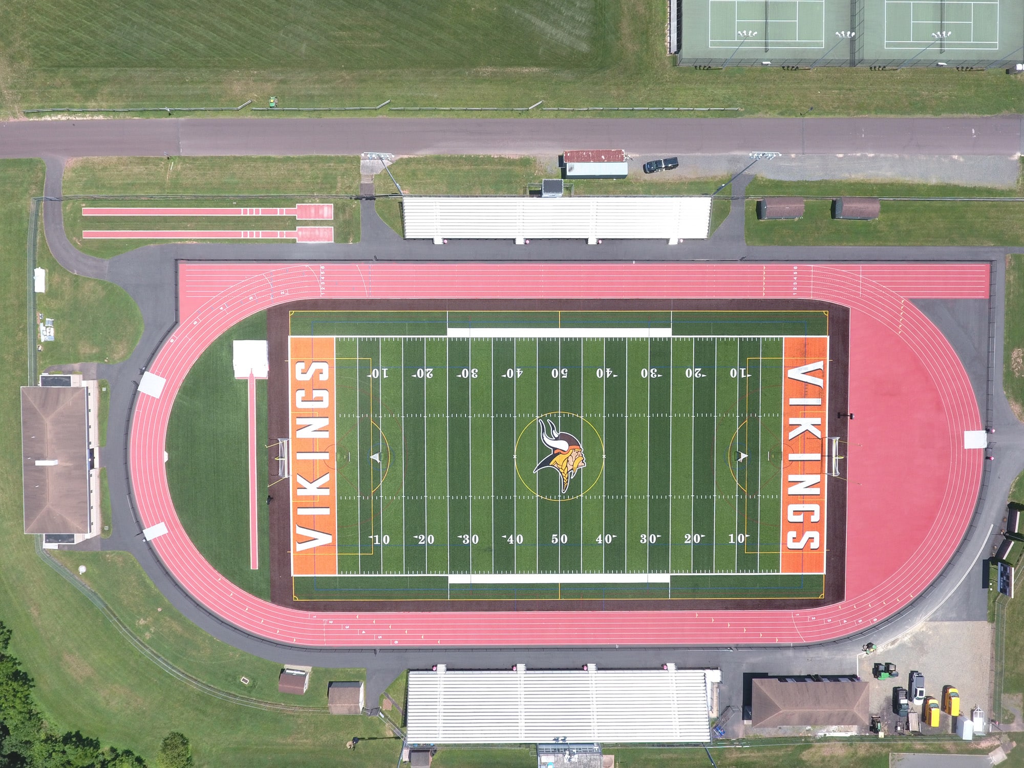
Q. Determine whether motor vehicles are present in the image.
Yes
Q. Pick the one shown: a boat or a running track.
running track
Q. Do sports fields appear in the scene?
Yes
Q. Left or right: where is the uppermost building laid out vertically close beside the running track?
left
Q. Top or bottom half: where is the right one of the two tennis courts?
top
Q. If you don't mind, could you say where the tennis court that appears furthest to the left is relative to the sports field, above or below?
above it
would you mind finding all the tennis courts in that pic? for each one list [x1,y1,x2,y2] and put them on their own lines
[677,0,856,67]
[856,0,1021,68]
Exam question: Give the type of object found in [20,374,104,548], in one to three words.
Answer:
building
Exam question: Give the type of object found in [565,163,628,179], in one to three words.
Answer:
trailer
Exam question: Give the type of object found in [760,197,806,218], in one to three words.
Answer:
shed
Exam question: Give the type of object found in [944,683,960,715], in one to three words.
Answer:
vehicle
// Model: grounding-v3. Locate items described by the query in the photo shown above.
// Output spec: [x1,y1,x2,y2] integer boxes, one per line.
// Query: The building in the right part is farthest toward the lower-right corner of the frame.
[744,670,870,728]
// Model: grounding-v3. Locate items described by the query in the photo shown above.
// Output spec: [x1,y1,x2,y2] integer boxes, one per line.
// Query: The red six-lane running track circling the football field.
[129,264,990,646]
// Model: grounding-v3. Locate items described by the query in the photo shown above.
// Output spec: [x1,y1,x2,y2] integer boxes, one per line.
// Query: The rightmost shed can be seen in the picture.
[835,197,884,219]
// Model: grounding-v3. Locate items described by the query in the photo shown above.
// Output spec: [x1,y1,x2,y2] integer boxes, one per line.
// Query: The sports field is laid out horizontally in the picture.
[165,298,850,613]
